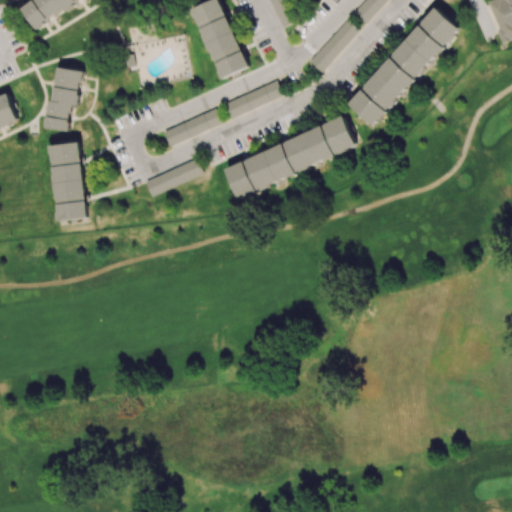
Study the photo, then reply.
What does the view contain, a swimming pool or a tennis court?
swimming pool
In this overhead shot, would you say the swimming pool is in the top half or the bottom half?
top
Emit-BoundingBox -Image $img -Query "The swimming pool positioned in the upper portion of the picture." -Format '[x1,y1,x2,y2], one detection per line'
[130,28,193,86]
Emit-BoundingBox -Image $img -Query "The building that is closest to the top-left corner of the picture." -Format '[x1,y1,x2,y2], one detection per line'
[20,0,94,33]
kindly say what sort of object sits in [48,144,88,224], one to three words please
building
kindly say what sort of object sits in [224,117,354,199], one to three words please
building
